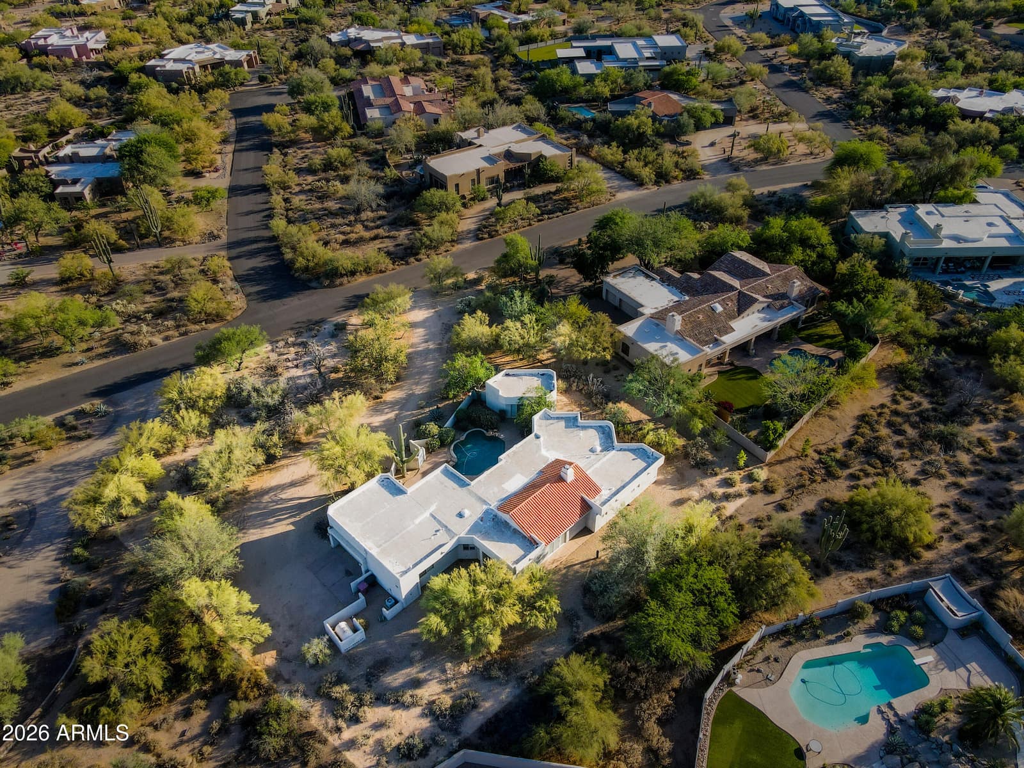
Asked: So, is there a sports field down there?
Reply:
No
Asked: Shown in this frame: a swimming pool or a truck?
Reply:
swimming pool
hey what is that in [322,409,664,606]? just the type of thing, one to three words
house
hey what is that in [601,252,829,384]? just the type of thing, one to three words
house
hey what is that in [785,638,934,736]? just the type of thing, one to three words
swimming pool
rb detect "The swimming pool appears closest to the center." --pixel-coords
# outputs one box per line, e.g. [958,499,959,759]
[448,427,509,478]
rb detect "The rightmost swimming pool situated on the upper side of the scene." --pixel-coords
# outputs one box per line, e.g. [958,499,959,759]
[933,278,999,308]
